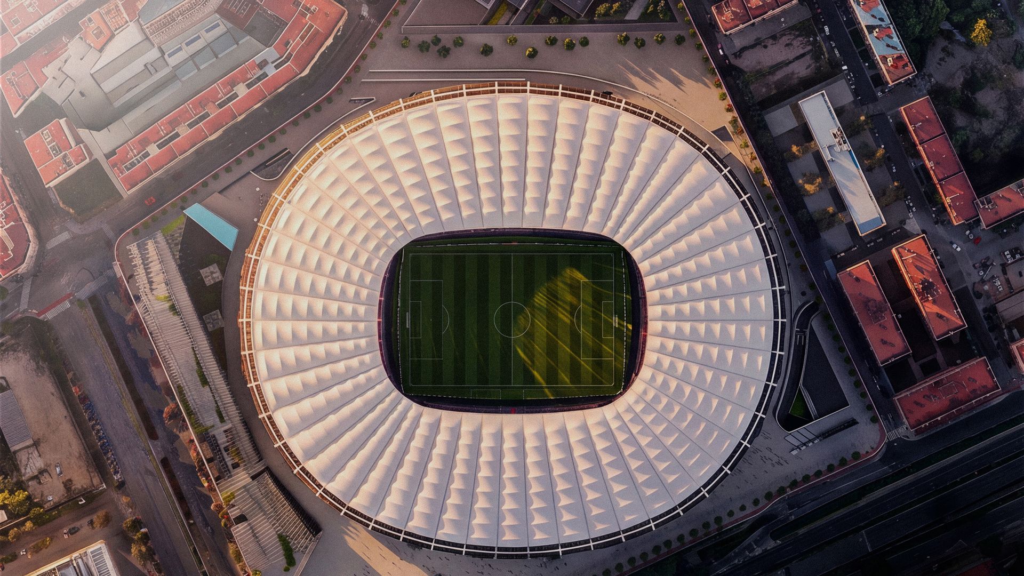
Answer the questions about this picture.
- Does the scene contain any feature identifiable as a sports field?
Yes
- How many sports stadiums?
1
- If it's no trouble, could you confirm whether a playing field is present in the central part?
Yes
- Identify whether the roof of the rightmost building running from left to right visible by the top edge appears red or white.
red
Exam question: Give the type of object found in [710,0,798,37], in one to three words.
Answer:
building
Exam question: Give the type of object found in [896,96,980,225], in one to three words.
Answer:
building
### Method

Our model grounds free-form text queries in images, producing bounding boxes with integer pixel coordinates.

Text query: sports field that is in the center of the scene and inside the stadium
[394,237,632,399]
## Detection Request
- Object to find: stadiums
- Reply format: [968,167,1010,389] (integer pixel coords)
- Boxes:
[236,81,786,559]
